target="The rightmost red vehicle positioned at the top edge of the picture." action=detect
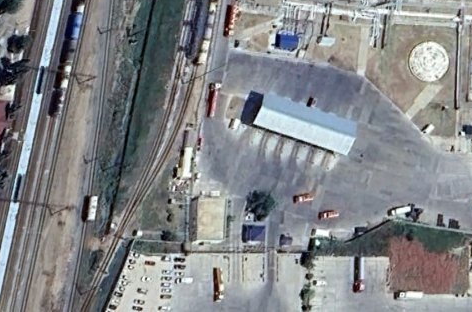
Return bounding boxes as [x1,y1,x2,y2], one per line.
[223,6,236,37]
